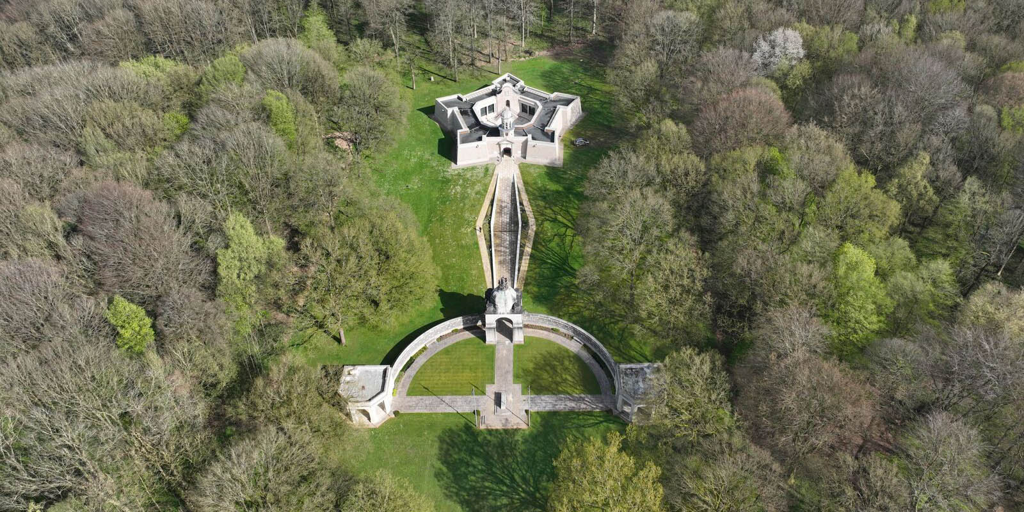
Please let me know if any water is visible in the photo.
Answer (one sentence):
No, there's no water in this view.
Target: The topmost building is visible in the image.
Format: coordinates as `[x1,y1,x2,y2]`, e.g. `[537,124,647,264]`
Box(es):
[433,73,583,165]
